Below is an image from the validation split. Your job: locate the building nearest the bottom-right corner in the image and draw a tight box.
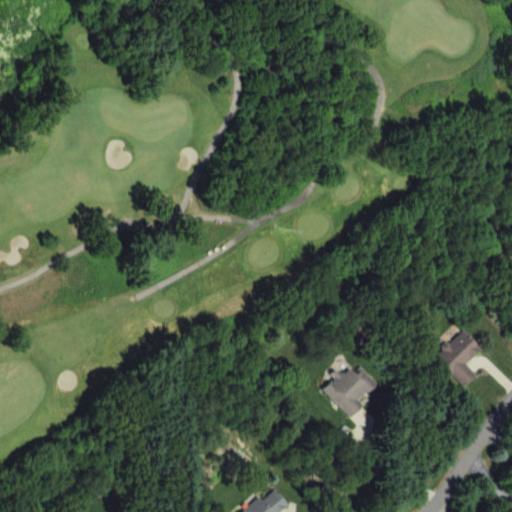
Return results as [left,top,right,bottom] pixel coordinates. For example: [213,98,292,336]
[439,325,484,387]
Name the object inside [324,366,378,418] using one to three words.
house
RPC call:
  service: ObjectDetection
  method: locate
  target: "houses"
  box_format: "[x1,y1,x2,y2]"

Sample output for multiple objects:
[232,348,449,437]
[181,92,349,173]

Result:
[243,489,293,512]
[324,366,378,418]
[439,325,484,387]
